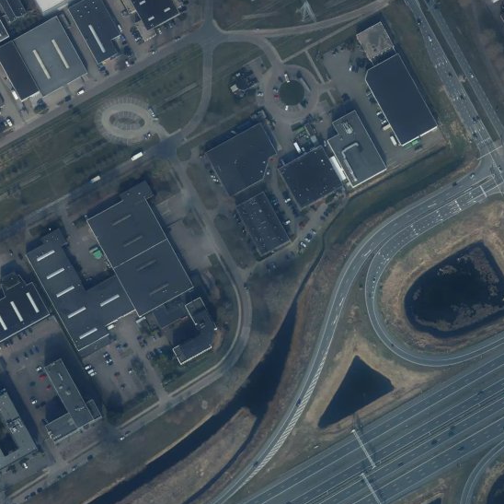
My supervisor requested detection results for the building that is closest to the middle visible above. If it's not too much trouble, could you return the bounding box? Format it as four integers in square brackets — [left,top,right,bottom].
[236,192,291,258]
